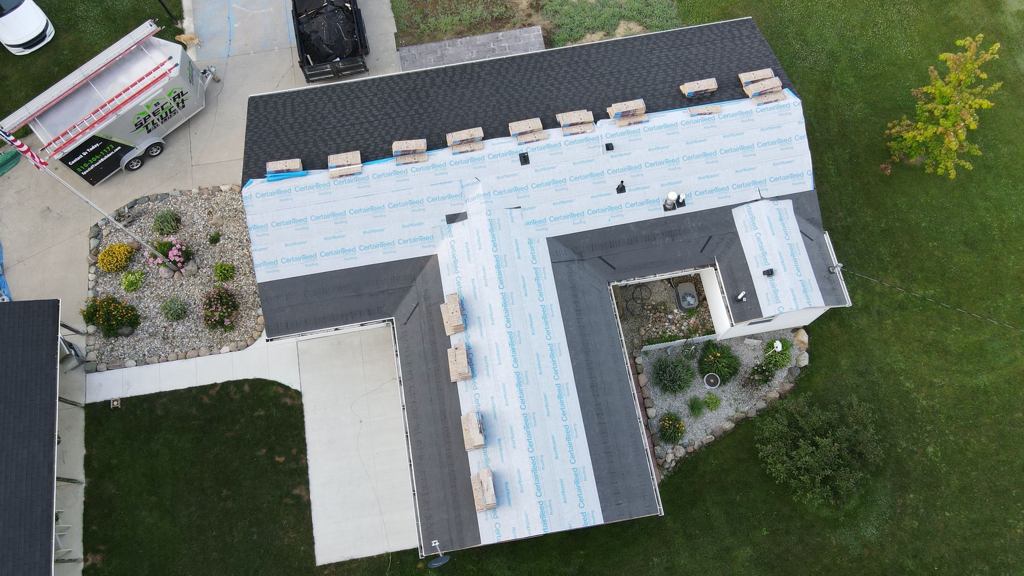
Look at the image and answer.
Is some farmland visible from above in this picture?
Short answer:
No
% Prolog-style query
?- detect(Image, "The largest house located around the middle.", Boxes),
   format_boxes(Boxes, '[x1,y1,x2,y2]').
[240,15,858,558]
